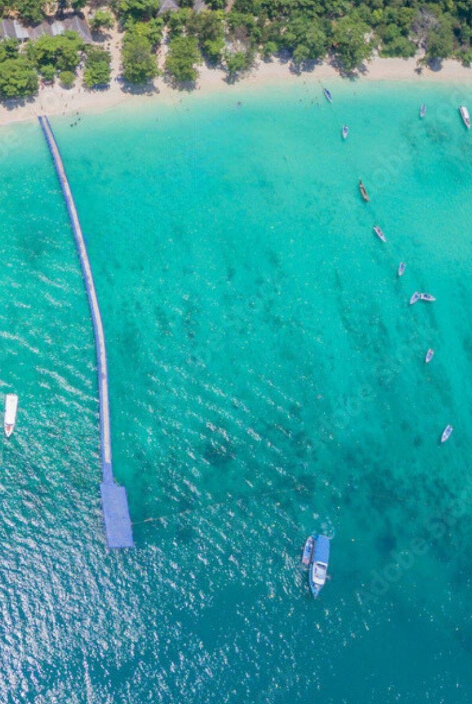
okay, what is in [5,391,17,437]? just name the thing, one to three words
boat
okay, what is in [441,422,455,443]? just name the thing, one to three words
boat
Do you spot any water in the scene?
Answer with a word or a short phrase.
Yes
